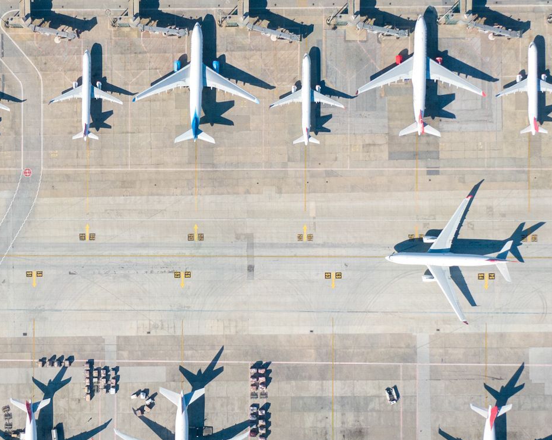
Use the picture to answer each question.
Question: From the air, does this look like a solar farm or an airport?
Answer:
airport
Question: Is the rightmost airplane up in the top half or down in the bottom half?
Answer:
top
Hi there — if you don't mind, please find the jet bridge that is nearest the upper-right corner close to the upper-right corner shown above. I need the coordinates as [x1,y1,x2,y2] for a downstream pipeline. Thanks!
[466,21,523,39]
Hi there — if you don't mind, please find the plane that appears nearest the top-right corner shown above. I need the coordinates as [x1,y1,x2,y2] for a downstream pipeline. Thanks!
[497,42,552,135]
